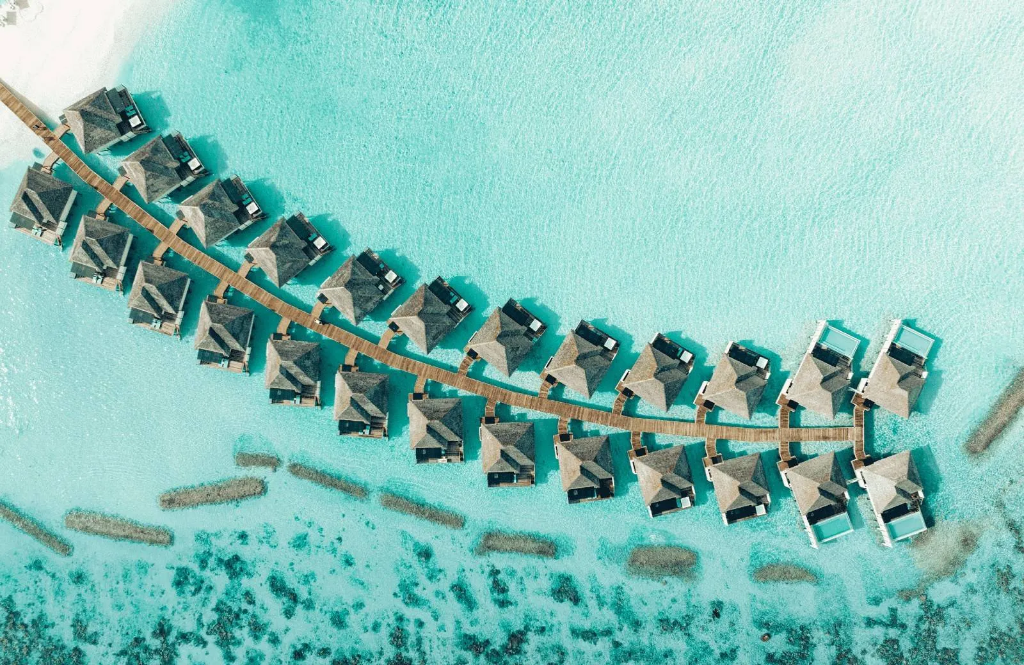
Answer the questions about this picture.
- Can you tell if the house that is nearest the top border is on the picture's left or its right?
left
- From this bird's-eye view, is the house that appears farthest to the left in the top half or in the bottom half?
top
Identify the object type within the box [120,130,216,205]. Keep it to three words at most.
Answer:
house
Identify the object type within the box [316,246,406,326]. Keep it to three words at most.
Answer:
house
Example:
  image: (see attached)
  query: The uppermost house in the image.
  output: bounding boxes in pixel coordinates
[62,83,159,158]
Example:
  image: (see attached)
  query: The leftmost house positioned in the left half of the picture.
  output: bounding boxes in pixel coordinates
[7,162,89,251]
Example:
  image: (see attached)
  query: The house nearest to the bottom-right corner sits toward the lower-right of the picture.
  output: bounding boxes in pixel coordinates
[845,451,925,548]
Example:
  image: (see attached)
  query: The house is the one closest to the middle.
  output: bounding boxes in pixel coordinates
[463,296,548,377]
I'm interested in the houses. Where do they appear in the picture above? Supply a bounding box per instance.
[265,331,325,407]
[62,83,159,158]
[463,296,548,377]
[120,130,216,205]
[844,319,927,419]
[772,320,851,420]
[626,443,694,519]
[333,361,391,437]
[700,452,771,527]
[615,331,696,412]
[479,413,535,488]
[385,274,474,354]
[772,451,850,548]
[193,292,262,374]
[67,209,144,296]
[408,389,464,463]
[7,162,89,251]
[845,451,925,548]
[539,318,620,399]
[316,246,406,326]
[692,340,769,420]
[178,174,272,248]
[245,209,338,288]
[127,254,201,338]
[554,430,615,505]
